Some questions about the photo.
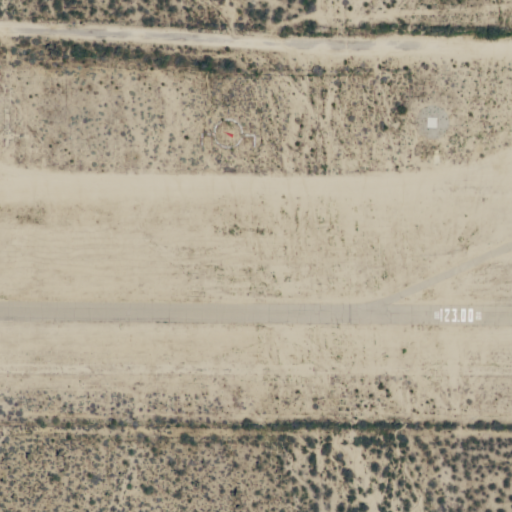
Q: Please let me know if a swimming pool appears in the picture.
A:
No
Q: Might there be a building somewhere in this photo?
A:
No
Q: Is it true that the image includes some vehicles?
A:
No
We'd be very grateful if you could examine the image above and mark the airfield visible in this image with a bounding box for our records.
[0,244,512,326]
